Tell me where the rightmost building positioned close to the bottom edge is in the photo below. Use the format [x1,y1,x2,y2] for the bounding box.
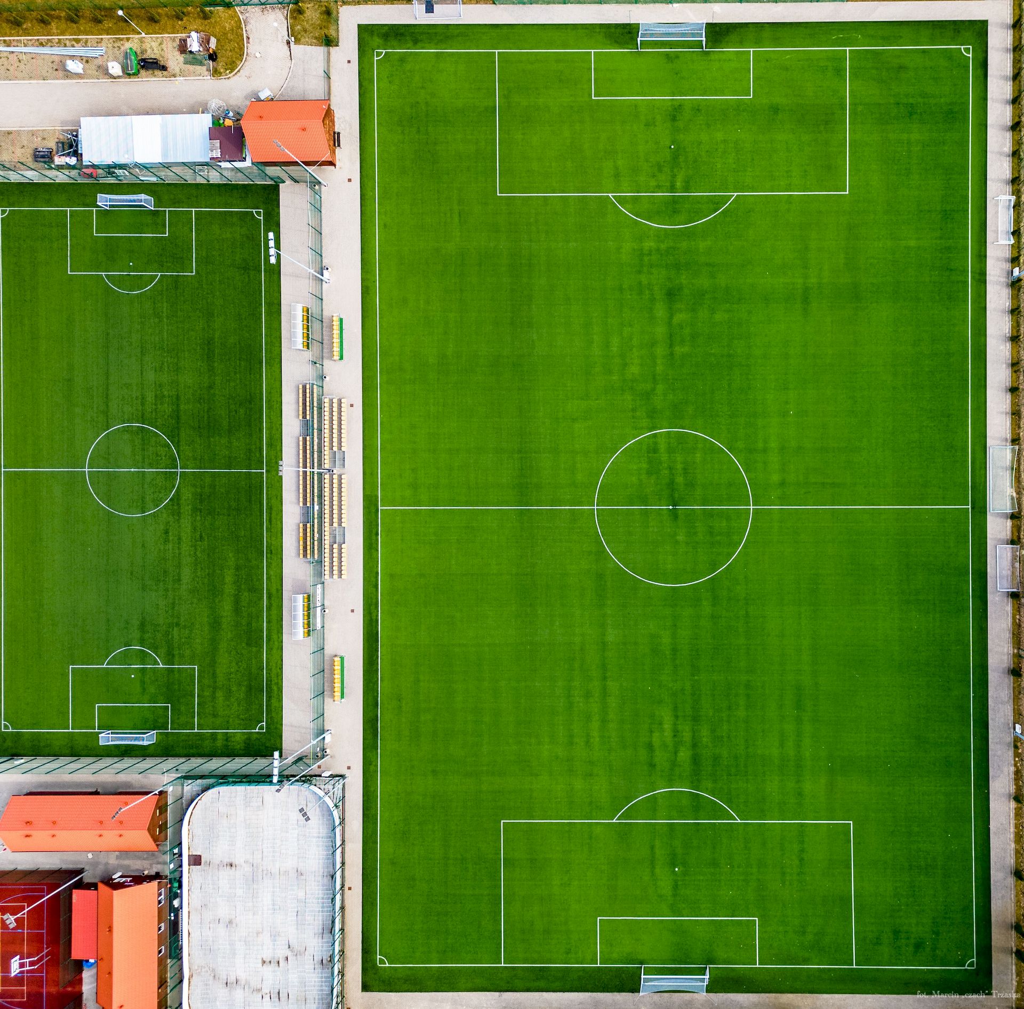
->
[96,874,170,1009]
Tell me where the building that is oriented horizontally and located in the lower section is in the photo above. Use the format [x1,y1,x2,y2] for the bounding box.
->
[0,788,169,852]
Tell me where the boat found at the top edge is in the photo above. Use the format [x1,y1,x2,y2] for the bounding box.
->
[123,48,137,73]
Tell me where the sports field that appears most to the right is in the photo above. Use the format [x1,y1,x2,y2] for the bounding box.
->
[358,19,992,996]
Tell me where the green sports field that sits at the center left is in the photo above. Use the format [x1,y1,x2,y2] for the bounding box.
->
[0,184,283,757]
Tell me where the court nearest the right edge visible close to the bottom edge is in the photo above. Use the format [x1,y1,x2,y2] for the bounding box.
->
[181,779,345,1009]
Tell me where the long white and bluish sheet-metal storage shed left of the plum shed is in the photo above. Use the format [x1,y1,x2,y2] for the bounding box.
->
[80,113,219,168]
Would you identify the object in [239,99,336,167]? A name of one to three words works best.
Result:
house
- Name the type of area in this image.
sports ground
